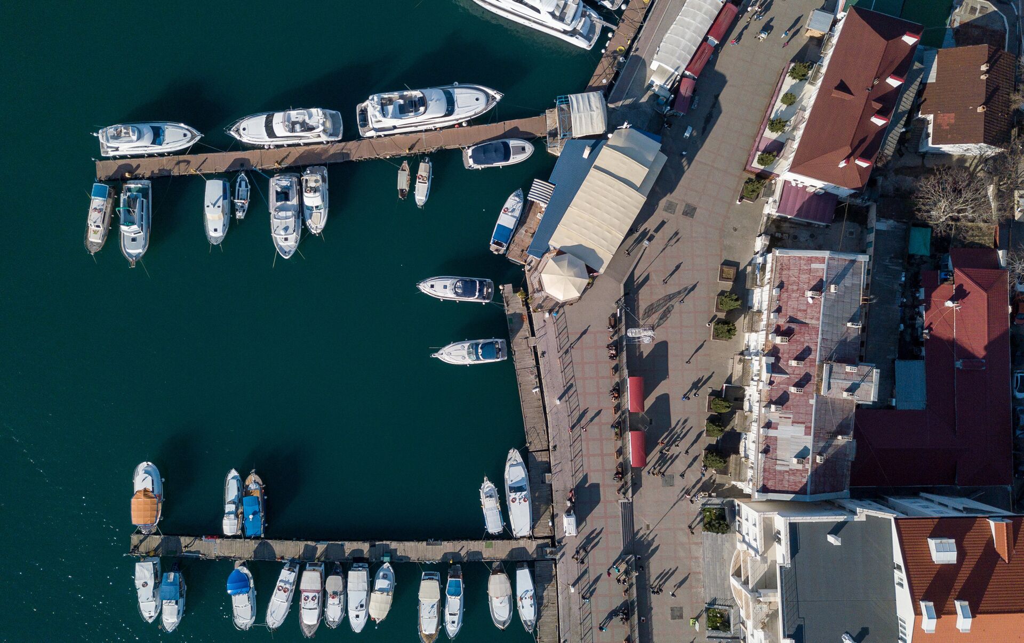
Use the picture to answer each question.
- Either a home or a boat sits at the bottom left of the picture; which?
boat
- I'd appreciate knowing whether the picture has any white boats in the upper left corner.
Yes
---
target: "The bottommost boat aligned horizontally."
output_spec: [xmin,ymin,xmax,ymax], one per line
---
[427,338,509,367]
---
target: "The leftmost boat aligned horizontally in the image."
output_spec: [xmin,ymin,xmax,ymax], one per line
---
[98,122,225,160]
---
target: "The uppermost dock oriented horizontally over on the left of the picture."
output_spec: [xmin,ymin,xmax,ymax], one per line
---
[96,115,547,180]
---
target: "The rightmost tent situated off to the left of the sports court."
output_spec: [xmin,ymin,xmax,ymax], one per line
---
[648,0,726,92]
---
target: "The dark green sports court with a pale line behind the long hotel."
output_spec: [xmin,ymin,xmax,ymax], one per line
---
[832,0,955,49]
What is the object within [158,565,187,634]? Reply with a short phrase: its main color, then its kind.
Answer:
blue boat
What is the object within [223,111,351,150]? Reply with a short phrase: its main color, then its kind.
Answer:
white boat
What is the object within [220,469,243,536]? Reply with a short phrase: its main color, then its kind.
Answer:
white boat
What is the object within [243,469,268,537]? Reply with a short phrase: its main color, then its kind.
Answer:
blue boat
